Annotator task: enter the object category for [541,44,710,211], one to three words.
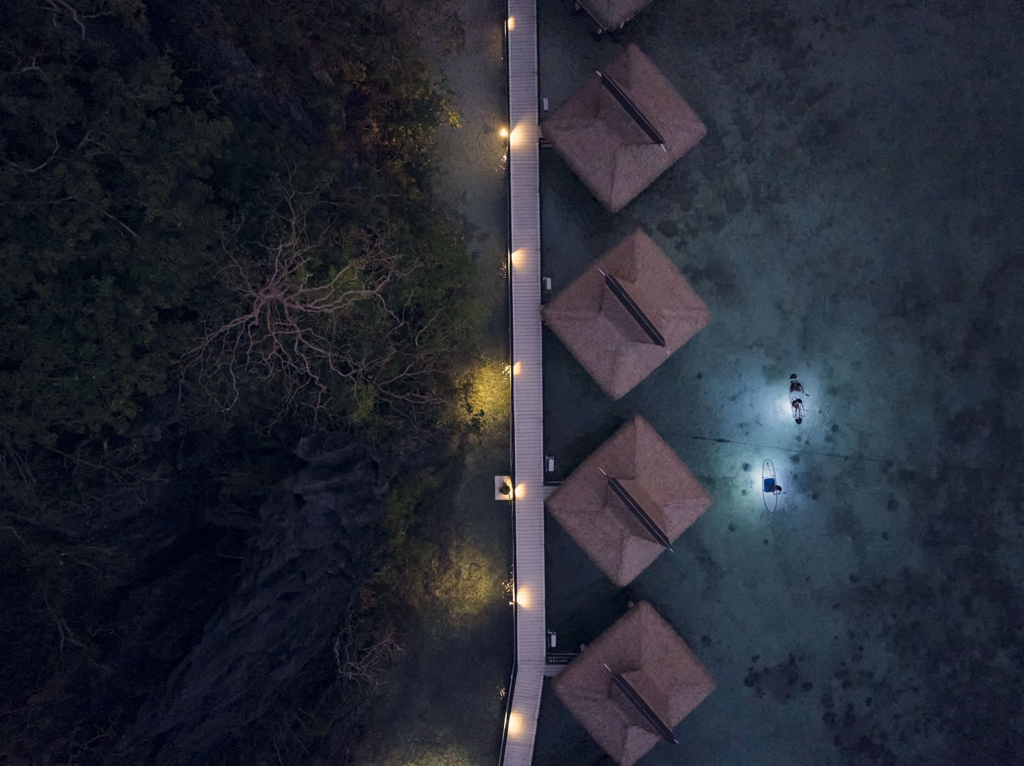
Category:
shed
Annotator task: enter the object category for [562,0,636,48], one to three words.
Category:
shed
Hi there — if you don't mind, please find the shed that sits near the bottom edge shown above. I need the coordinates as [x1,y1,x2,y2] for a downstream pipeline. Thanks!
[550,599,717,766]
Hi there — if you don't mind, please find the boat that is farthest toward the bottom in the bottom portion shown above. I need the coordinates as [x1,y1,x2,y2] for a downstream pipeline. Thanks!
[761,459,778,514]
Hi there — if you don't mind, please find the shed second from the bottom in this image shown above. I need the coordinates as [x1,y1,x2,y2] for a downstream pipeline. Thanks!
[543,418,713,586]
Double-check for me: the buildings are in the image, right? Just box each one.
[541,44,710,211]
[550,599,717,766]
[543,418,713,586]
[541,228,712,398]
[562,0,636,48]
